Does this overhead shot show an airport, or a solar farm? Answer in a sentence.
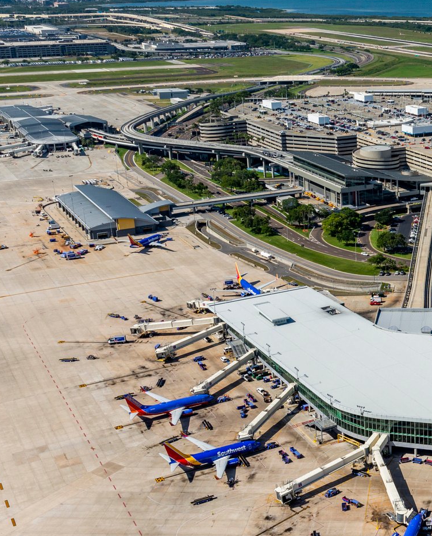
The area seen from above is an airport.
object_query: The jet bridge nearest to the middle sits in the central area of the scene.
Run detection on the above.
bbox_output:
[183,300,214,317]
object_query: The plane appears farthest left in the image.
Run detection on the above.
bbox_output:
[116,233,165,247]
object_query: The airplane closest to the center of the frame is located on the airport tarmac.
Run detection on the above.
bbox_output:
[214,266,277,298]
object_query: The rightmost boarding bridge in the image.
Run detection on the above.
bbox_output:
[370,435,417,528]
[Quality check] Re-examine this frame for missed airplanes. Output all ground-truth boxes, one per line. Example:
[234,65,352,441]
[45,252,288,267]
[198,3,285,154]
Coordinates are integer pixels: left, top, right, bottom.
[162,431,262,480]
[393,512,432,536]
[214,266,277,298]
[123,386,215,427]
[116,233,165,247]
